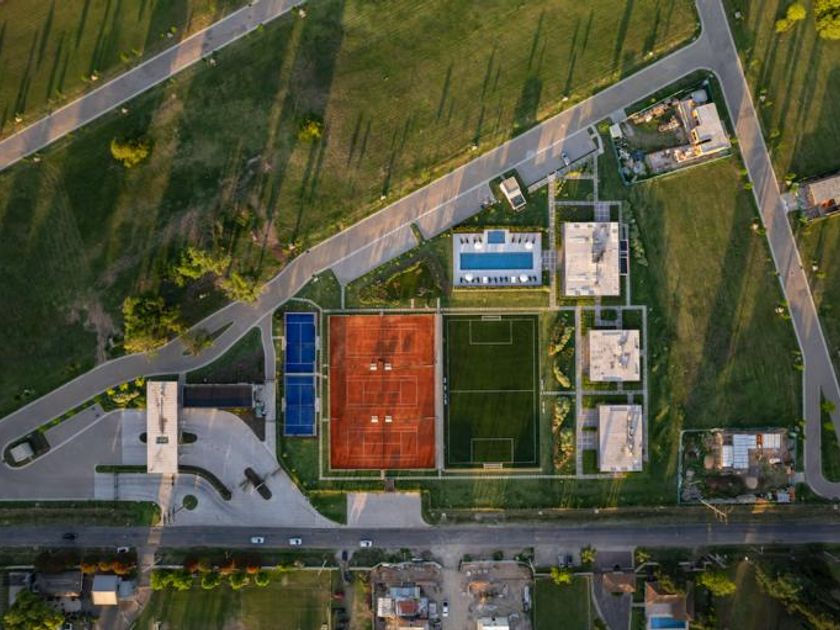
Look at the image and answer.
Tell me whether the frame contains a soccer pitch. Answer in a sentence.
Yes, a soccer pitch appears in the view.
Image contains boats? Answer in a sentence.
No, the picture doesn't show any boat.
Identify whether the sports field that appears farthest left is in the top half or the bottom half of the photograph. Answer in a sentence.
The sports field that appears farthest left sits in the bottom half of the picture.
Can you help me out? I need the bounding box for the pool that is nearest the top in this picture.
[453,231,541,286]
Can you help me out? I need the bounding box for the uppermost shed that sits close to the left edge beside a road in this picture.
[11,441,39,463]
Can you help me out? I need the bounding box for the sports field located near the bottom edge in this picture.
[143,570,330,630]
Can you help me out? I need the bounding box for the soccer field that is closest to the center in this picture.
[443,313,543,473]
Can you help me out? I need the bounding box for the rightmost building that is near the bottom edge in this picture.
[646,582,694,622]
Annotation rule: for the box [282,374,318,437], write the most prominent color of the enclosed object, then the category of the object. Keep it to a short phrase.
blue sports court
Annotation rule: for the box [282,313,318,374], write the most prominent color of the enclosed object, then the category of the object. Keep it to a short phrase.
blue sports court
